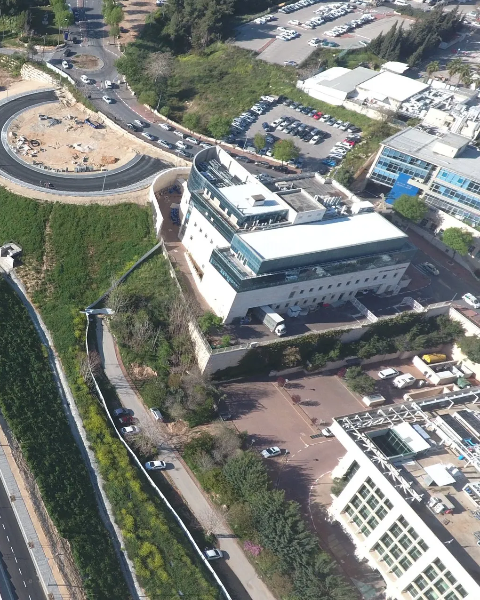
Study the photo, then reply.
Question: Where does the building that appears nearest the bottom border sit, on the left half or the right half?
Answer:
right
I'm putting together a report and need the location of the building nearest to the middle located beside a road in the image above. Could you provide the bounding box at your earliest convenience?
[172,146,418,324]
